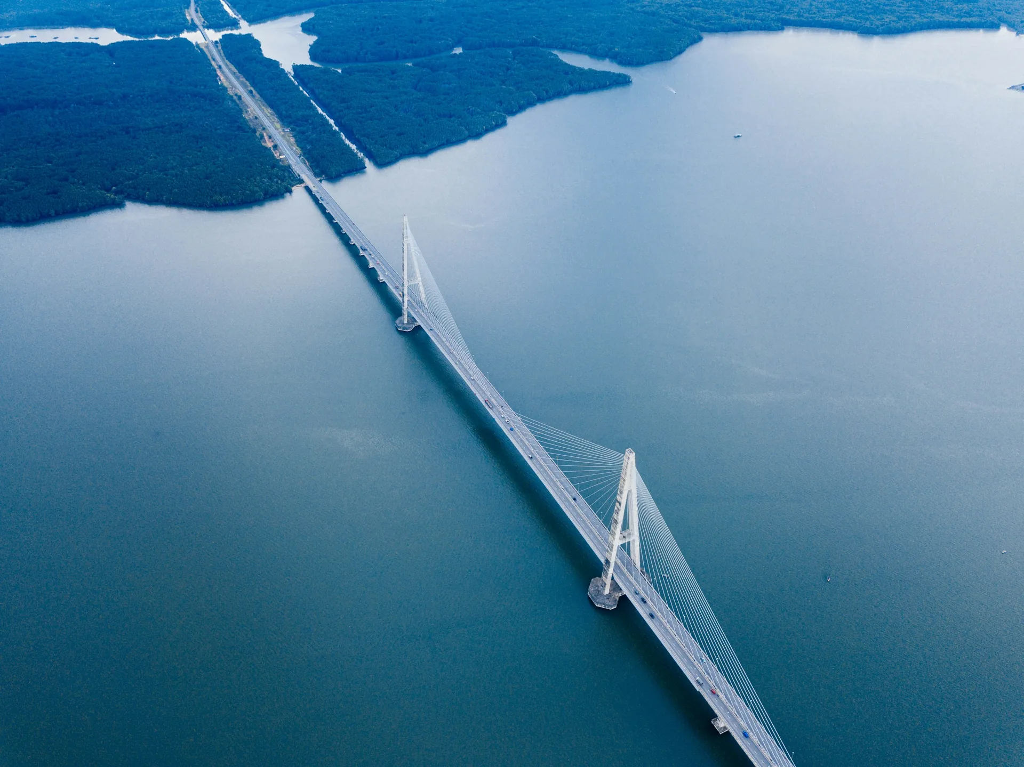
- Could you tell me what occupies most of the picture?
water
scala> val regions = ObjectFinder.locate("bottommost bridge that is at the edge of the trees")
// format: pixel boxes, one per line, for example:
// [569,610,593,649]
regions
[307,182,795,767]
